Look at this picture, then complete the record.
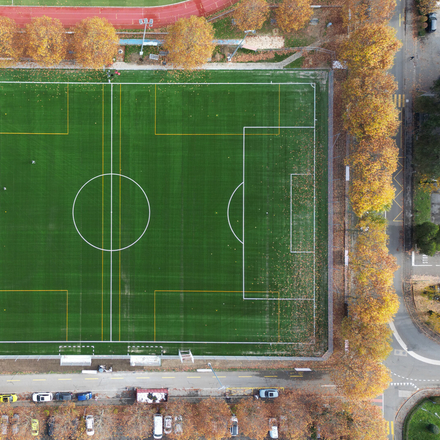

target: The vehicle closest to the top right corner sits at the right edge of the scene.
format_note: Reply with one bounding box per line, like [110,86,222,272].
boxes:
[424,13,438,34]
